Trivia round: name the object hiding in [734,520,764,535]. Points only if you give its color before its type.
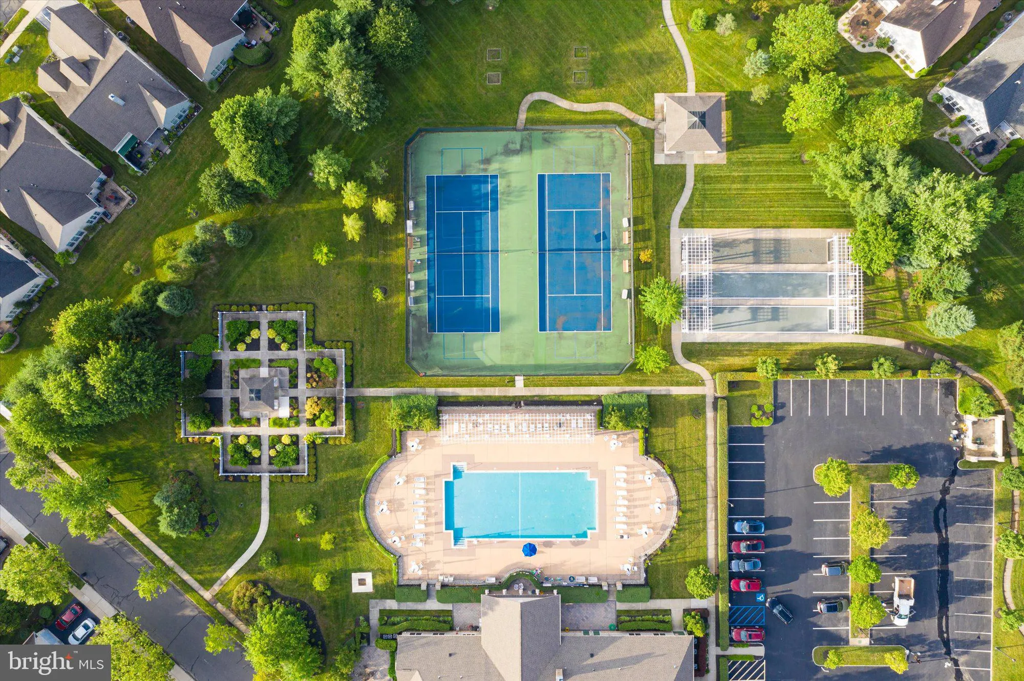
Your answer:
blue car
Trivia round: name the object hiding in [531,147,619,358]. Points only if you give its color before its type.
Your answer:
blue tennis court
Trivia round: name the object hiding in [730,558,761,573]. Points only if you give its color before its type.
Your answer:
blue car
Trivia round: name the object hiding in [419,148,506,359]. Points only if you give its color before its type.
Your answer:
blue tennis court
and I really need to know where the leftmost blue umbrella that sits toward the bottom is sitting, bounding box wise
[522,547,537,561]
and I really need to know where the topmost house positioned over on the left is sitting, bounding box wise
[116,0,251,83]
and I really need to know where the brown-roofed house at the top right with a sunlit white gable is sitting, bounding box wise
[875,0,1001,72]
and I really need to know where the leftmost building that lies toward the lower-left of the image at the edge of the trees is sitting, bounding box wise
[10,622,81,681]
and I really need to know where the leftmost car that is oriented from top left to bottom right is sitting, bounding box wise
[765,595,794,627]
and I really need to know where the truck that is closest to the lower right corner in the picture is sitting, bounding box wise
[887,571,919,622]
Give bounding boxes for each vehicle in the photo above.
[730,577,762,593]
[765,595,794,627]
[730,558,761,573]
[731,539,763,555]
[731,627,765,644]
[819,562,848,577]
[734,520,764,535]
[68,617,97,646]
[816,599,847,614]
[887,571,919,622]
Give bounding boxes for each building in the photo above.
[241,377,279,412]
[0,244,49,325]
[0,92,108,252]
[937,10,1024,138]
[116,0,251,83]
[394,590,694,681]
[875,0,1001,72]
[38,2,194,171]
[664,95,722,154]
[10,622,81,681]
